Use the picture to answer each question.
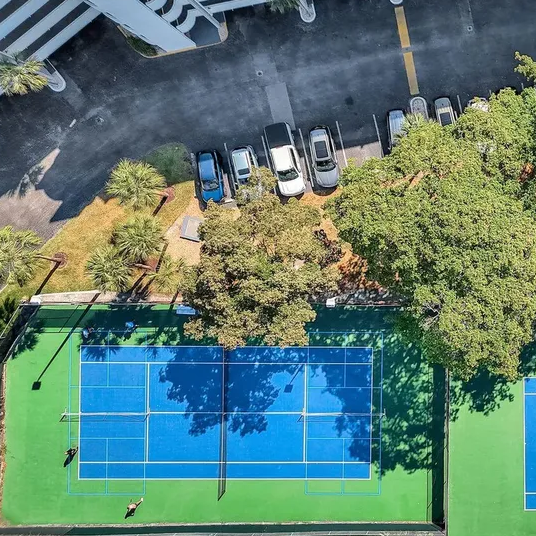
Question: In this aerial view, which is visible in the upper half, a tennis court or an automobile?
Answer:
automobile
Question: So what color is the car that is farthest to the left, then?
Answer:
blue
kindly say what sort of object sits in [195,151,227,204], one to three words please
car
